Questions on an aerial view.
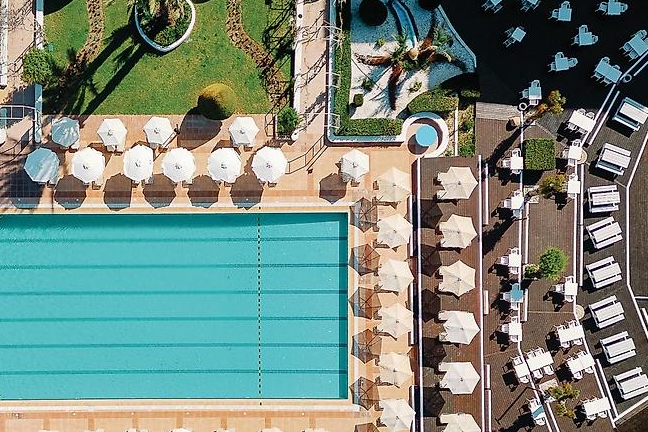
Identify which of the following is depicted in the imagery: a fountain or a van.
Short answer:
fountain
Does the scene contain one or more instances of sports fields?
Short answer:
No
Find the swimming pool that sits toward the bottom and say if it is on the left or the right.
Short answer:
left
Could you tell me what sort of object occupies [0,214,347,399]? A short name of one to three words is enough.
swimming pool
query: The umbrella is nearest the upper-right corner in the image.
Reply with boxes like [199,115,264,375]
[438,167,477,202]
